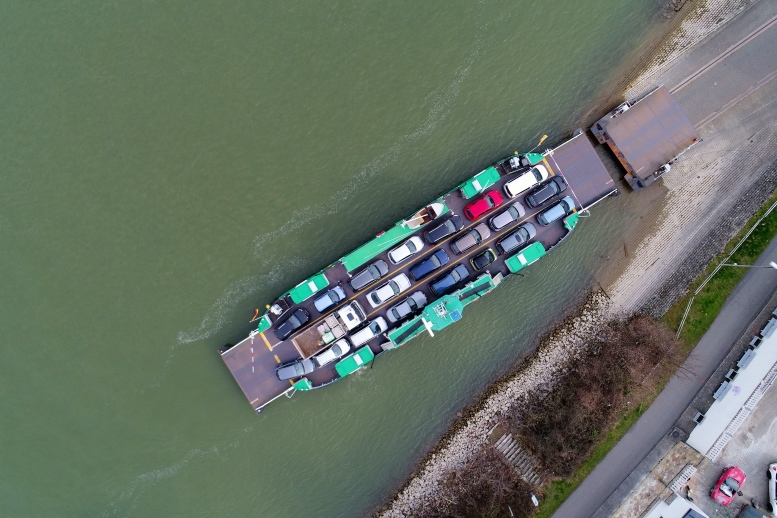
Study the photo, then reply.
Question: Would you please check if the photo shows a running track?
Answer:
No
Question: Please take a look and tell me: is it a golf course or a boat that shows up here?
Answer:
boat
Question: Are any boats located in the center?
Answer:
Yes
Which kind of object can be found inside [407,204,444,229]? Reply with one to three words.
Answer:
boat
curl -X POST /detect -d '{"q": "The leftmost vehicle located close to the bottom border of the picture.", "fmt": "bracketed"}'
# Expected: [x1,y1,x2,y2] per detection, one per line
[709,464,746,505]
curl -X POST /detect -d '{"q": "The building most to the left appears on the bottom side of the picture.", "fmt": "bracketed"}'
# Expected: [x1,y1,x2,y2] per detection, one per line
[637,485,701,518]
